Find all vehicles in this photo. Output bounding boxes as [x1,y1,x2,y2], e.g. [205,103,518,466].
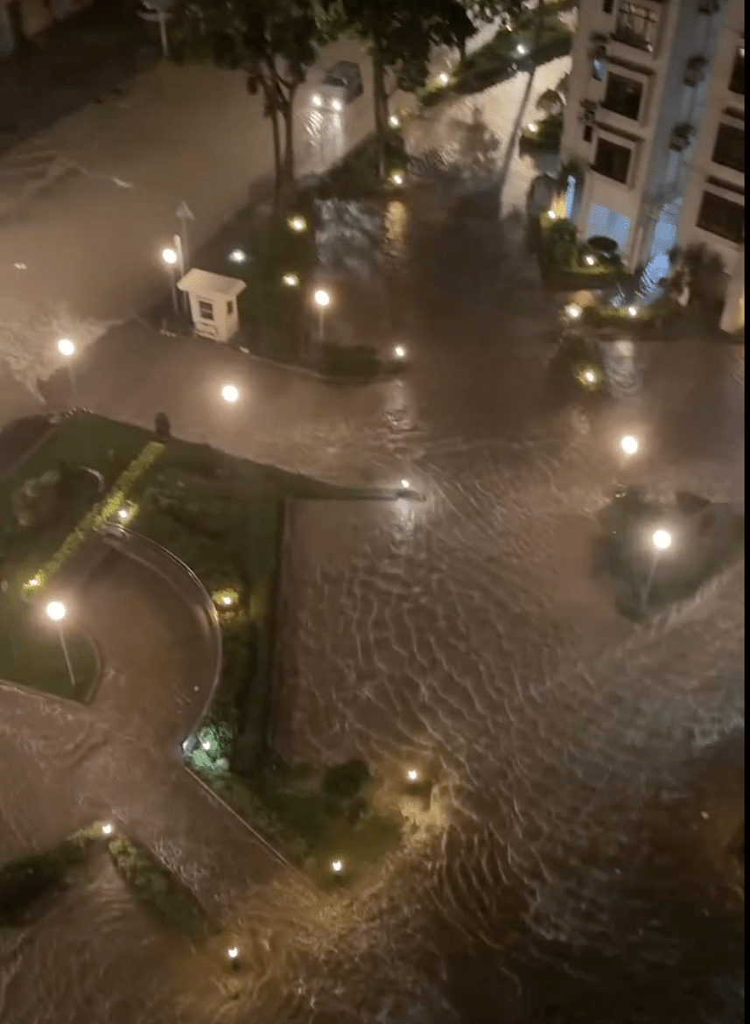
[315,66,357,115]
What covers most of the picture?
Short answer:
water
